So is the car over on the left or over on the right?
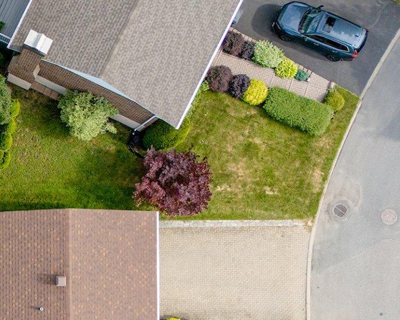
right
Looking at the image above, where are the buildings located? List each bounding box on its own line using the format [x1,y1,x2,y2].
[0,209,162,320]
[0,0,241,130]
